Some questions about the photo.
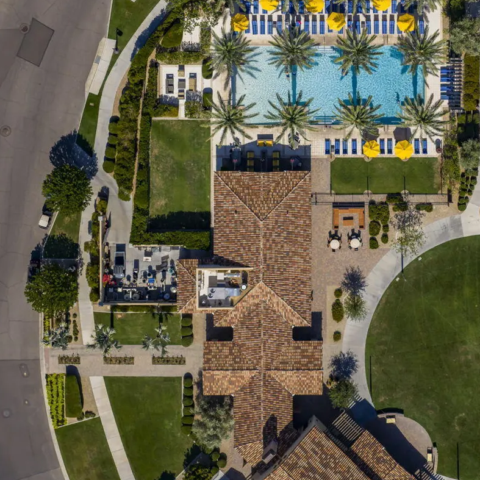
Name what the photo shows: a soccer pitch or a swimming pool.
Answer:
swimming pool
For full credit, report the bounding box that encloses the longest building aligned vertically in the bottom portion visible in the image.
[176,169,323,467]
